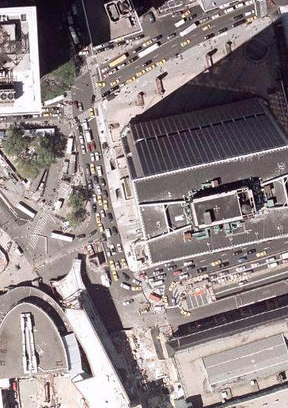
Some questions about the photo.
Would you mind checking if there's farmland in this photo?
No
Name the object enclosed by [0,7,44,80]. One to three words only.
building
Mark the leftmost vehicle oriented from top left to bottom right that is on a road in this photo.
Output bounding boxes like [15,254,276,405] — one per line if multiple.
[17,202,36,218]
